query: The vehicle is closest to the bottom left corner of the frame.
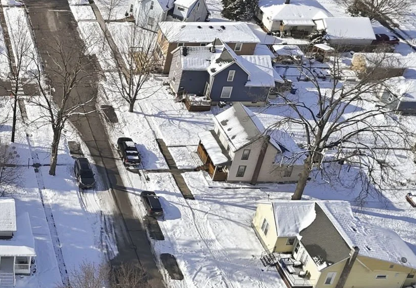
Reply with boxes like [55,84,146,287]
[72,157,101,191]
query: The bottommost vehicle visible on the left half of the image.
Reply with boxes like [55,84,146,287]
[139,191,168,220]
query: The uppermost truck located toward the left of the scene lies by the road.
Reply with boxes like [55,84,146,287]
[117,139,147,170]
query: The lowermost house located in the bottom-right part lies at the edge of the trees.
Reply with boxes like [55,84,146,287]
[250,187,415,288]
